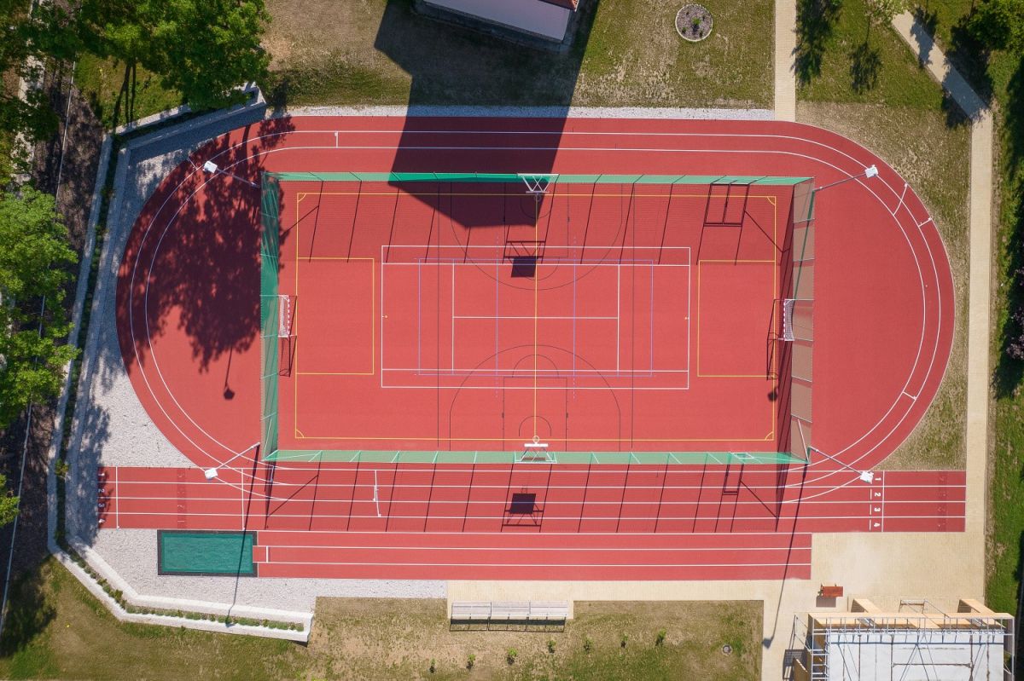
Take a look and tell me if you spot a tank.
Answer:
No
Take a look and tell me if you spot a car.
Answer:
No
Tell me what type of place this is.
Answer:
sports ground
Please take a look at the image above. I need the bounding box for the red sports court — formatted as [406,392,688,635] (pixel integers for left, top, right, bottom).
[278,182,793,452]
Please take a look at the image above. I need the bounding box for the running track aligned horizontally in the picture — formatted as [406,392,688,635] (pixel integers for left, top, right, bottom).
[98,117,966,534]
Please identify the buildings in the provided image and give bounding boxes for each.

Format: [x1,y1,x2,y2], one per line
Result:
[794,600,1018,681]
[428,0,582,43]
